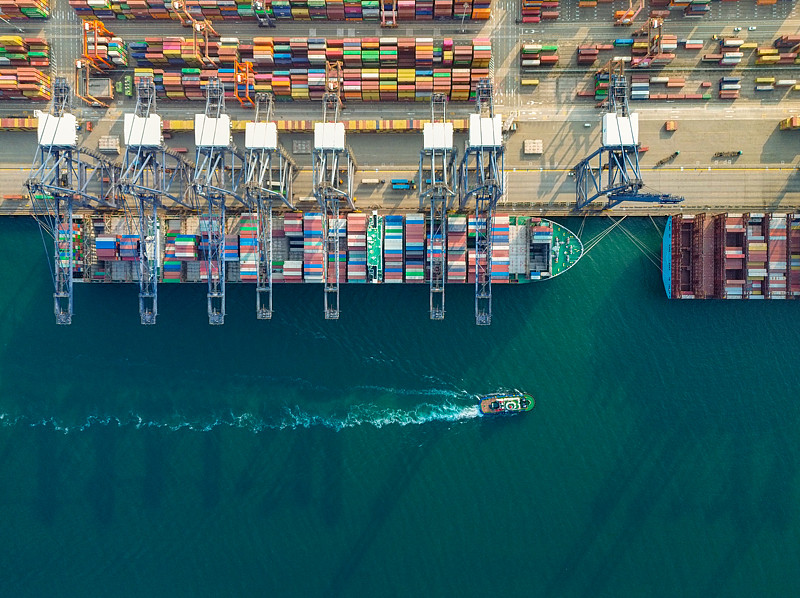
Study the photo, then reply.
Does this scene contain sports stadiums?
No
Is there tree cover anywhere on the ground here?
No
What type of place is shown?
port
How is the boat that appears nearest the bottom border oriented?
from left to right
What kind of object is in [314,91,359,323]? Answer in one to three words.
container crane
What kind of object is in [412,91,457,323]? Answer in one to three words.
container crane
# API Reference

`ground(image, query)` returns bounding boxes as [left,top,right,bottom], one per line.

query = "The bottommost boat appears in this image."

[478,392,534,414]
